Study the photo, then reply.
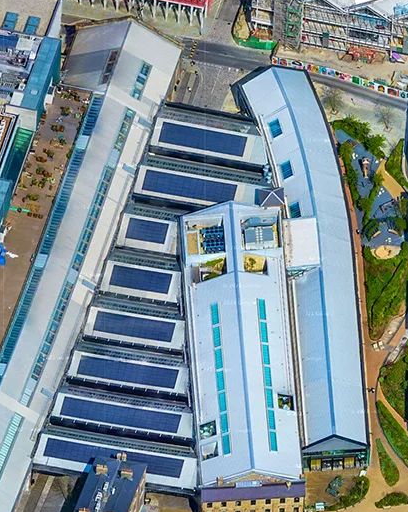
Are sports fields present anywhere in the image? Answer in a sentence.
Yes, the frame does contain a sports field.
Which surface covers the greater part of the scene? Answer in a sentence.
The bulk of the photo consists of buildings.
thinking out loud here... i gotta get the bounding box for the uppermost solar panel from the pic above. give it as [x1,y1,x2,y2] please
[159,121,247,156]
